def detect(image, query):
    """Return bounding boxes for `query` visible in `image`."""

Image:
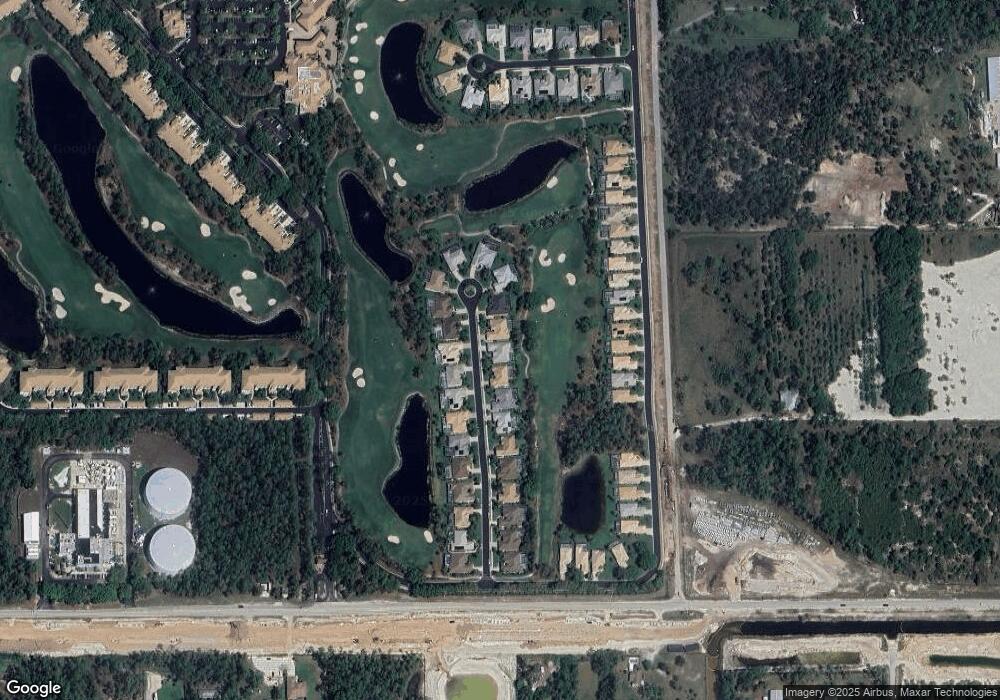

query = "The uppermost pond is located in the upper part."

[381,22,442,124]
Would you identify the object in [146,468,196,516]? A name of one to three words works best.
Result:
storage tank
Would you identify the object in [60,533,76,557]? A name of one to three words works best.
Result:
building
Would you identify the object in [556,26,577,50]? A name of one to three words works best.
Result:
house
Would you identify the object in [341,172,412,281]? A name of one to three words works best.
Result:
pond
